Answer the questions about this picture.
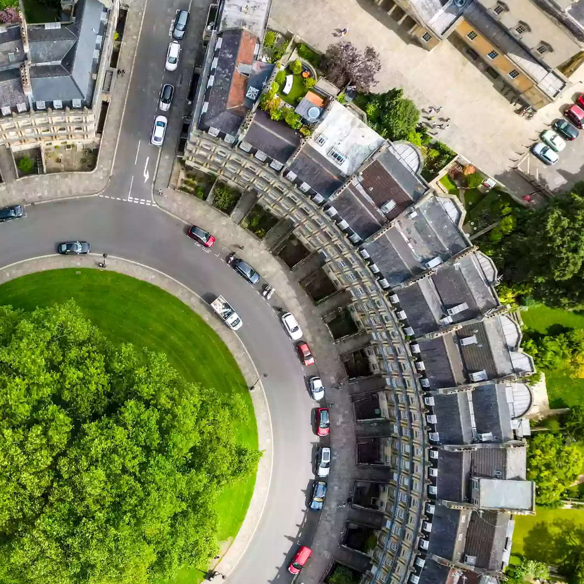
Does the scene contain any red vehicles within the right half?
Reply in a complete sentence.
Yes, a red vehicle shows up within the right half.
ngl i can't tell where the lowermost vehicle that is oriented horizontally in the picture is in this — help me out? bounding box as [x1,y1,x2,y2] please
[60,240,89,255]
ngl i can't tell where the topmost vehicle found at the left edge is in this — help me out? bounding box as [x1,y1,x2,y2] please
[0,204,25,222]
